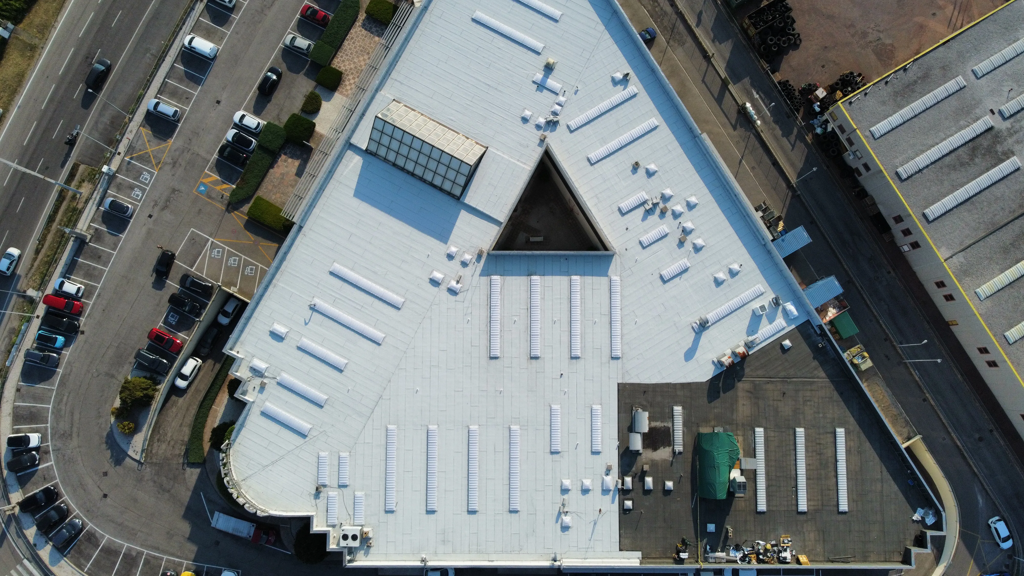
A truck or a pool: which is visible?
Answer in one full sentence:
There is a truck in the scene.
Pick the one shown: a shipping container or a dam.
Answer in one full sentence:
This aerial view contains a shipping container.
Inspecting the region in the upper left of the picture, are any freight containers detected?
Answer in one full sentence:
No, there is no freight container in the upper left of the picture.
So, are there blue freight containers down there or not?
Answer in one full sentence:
Yes, the photo shows a blue freight container.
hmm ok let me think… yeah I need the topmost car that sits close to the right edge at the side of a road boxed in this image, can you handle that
[986,515,1014,549]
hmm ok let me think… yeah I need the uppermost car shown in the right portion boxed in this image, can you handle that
[637,23,661,45]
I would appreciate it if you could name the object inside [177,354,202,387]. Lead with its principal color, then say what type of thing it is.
white car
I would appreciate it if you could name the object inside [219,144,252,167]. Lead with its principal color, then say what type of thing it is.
black car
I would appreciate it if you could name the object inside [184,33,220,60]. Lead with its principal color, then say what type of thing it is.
white vehicle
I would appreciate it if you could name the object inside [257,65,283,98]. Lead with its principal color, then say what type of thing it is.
black car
